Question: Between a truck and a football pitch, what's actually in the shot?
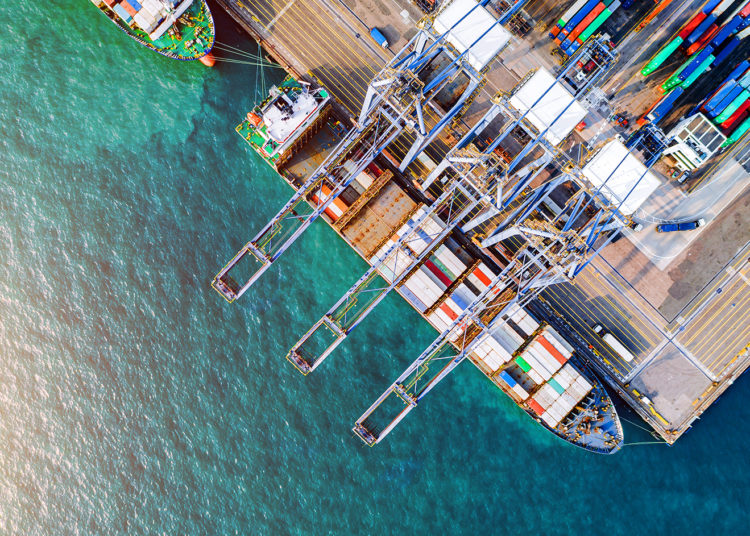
truck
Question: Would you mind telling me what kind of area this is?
port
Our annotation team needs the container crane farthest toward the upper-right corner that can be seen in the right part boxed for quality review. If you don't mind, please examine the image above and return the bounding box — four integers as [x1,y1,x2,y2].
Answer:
[648,112,728,181]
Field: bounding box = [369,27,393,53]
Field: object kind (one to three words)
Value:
truck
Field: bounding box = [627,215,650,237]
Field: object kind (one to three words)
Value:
truck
